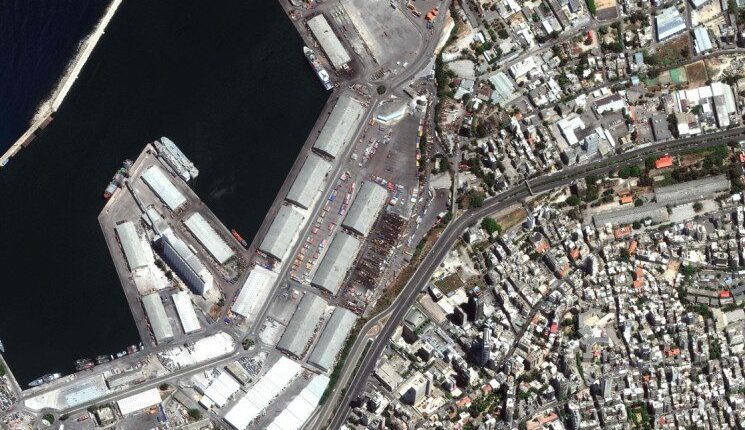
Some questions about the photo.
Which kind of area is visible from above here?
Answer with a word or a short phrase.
port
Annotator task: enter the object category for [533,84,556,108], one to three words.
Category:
building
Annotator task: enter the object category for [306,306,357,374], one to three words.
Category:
building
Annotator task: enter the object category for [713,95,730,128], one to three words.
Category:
shed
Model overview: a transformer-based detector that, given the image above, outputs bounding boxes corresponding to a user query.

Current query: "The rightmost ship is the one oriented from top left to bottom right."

[304,45,335,91]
